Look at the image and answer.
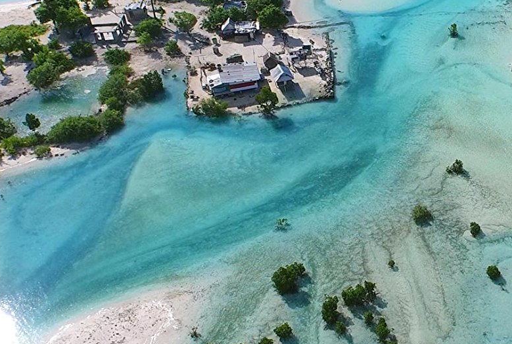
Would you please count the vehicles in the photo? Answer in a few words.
0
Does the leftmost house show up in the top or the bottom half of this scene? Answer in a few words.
top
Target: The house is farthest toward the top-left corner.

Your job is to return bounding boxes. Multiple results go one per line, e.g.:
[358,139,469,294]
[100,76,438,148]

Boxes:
[90,7,130,42]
